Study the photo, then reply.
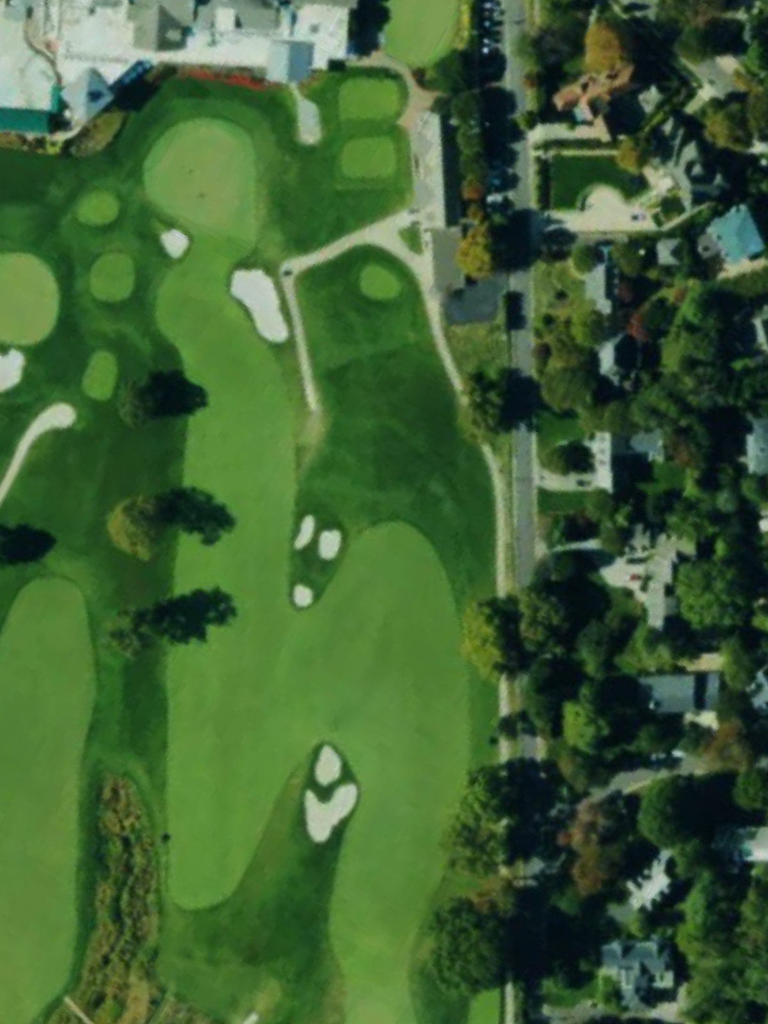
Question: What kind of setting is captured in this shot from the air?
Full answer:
This image shows a golf course.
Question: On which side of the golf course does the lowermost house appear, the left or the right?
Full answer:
From the viewer's perspective, the lowermost house falls to the right of the golf course.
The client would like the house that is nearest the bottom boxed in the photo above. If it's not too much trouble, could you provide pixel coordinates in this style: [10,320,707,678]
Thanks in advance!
[604,941,675,1008]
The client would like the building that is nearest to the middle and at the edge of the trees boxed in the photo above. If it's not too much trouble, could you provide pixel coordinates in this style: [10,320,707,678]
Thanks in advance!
[587,431,615,493]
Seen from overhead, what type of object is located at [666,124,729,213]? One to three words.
house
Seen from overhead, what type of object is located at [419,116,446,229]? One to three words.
building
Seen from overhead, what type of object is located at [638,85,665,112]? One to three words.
shed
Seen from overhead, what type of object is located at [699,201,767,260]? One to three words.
house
